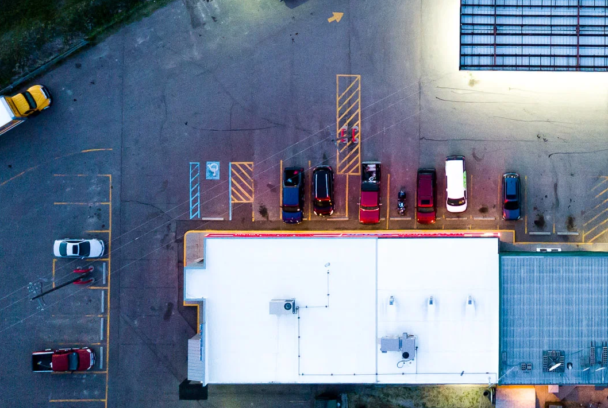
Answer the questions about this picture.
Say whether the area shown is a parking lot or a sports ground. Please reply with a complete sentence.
It's a parking lot.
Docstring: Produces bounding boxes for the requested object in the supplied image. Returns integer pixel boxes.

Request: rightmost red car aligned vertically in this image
[414,169,439,223]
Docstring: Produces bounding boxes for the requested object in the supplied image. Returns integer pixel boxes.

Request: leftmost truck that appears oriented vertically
[279,165,306,225]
